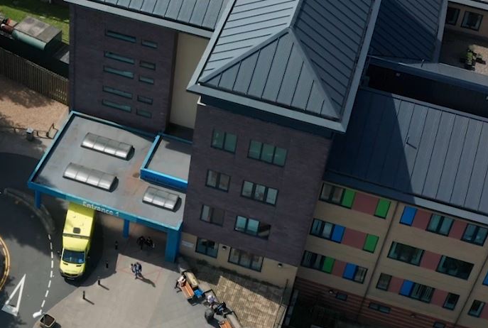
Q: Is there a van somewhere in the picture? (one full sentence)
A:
Yes, there is a van in the image.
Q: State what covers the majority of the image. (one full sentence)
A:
The bulk of the photo consists of buildings.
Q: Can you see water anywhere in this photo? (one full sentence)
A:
No, there is no water in the image.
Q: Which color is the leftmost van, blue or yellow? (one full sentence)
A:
The leftmost van looks yellow in the image.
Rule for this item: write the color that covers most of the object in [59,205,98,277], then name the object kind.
yellow van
